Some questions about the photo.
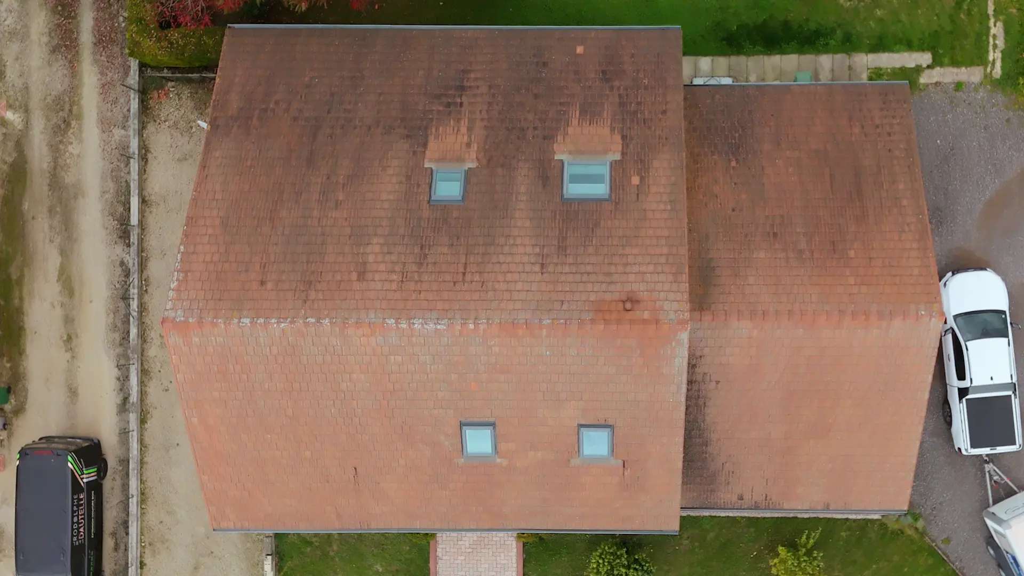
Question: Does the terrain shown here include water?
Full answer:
No, water can't be seen anywhere here.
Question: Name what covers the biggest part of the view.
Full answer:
The bulk of the photo consists of buildings.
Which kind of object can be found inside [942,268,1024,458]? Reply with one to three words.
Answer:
truck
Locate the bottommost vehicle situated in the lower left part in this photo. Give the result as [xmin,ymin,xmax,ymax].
[16,435,106,576]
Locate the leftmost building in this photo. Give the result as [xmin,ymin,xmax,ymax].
[161,23,690,537]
